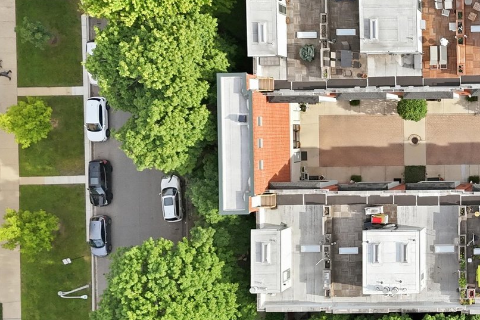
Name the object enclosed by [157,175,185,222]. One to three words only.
car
